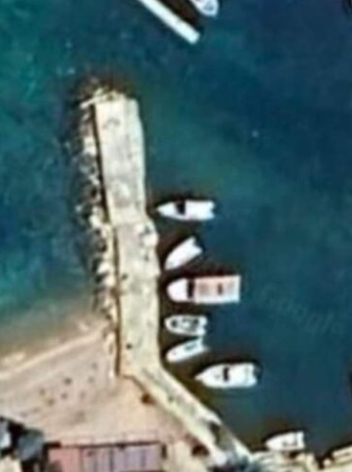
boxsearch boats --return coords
[185,363,263,388]
[157,234,204,274]
[148,199,219,219]
[249,432,309,458]
[158,274,241,303]
[192,0,216,18]
[158,314,208,335]
[159,334,213,360]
